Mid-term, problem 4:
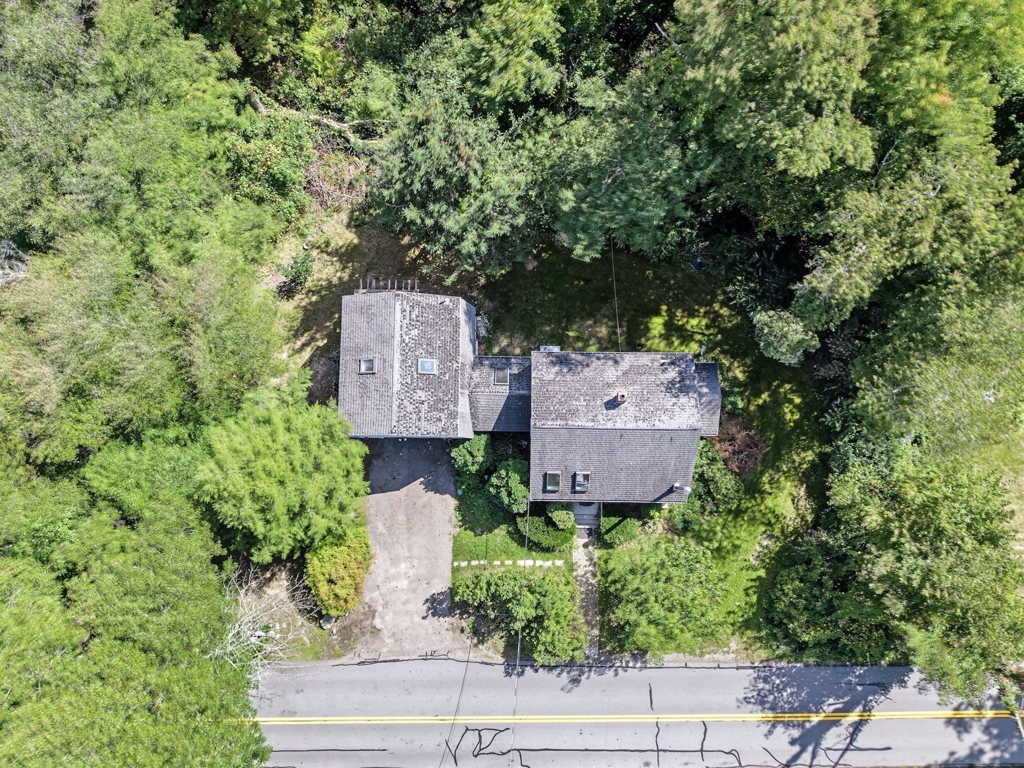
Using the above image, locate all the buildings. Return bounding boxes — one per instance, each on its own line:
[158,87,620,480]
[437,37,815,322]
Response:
[528,350,721,504]
[338,291,478,441]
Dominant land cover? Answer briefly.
trees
